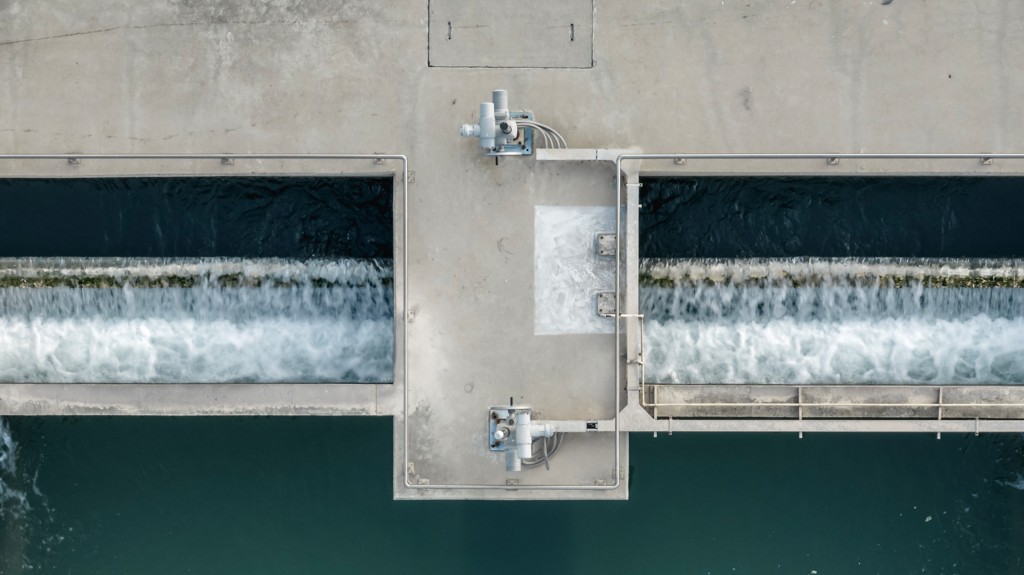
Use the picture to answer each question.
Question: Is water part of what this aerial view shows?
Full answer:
Yes, water can be seen from above here.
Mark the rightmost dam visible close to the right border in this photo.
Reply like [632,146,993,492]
[639,258,1024,287]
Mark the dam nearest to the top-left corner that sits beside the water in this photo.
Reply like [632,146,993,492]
[0,258,394,287]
